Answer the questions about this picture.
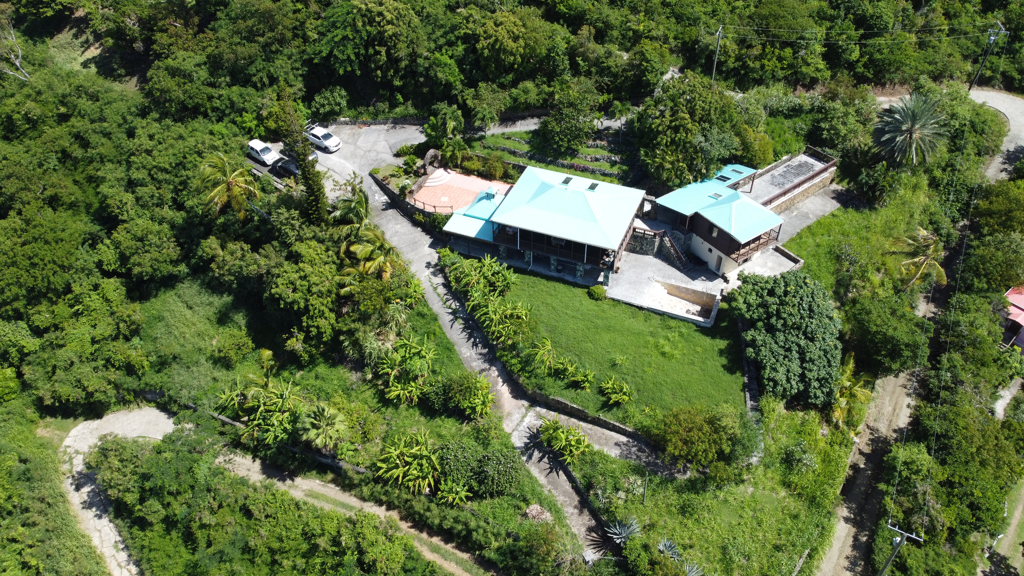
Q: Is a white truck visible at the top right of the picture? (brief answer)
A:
No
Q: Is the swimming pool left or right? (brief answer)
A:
right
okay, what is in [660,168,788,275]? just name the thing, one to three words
house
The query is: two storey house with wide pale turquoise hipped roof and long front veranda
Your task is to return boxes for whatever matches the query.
[440,165,645,289]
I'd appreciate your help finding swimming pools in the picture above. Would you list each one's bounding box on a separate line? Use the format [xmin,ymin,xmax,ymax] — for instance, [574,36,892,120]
[644,278,721,335]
